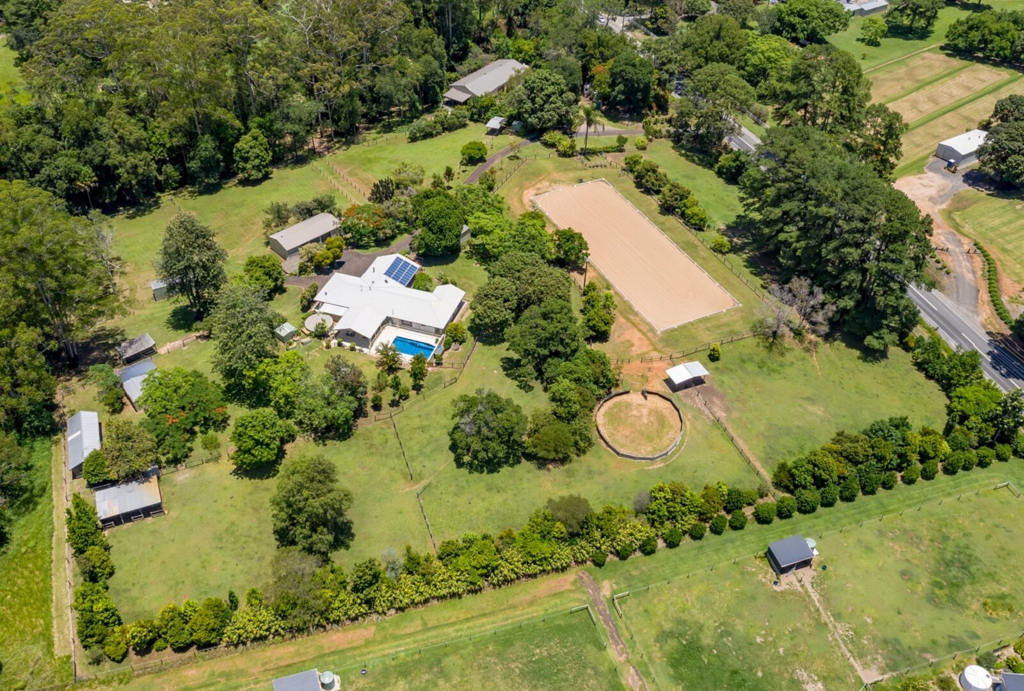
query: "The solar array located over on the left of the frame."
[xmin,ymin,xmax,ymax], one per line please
[385,257,418,284]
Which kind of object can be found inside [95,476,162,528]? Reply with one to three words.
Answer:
building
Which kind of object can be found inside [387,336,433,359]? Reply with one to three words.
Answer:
swimming pool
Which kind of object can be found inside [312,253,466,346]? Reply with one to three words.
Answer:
house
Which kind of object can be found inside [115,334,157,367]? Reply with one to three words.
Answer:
shed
